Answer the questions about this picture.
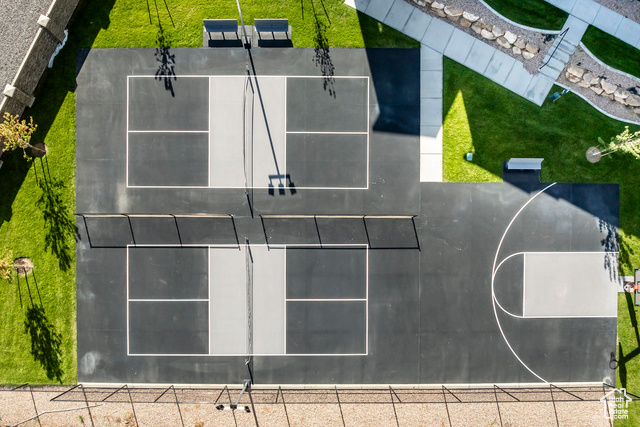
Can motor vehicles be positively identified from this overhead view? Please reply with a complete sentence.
No, no motor vehicle can be seen from above.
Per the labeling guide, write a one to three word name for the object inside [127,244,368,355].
sports court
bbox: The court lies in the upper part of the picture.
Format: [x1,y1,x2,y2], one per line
[127,76,369,189]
